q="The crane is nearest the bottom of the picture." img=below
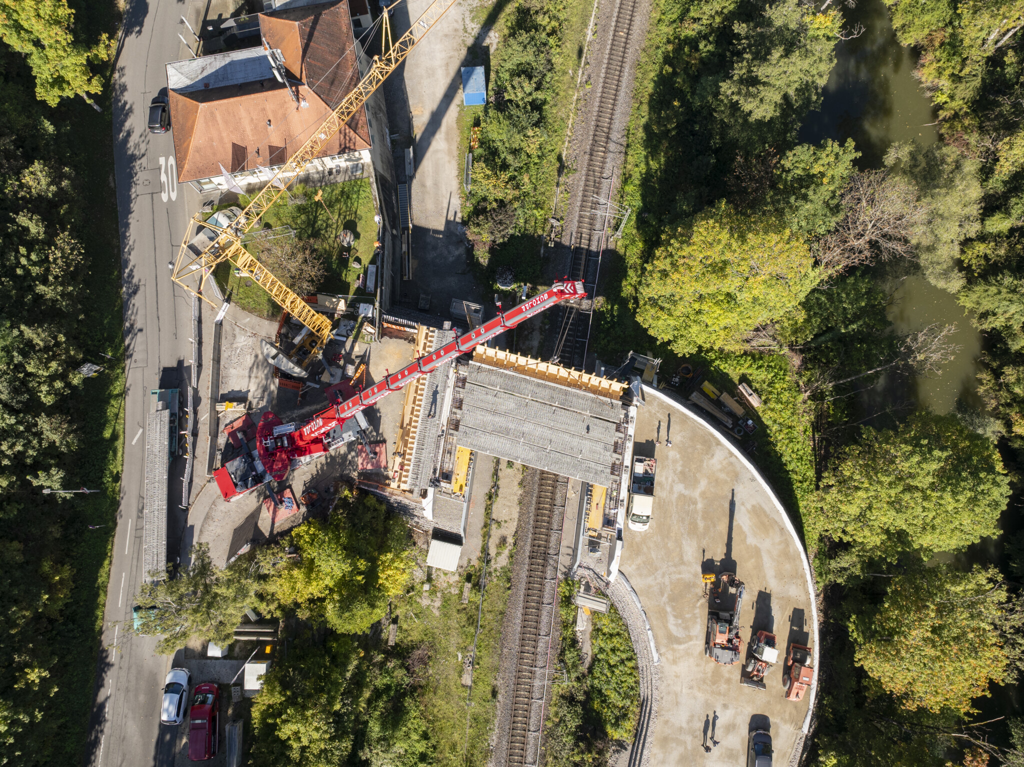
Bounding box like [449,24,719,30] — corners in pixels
[212,275,612,509]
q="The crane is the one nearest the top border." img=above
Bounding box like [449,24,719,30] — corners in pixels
[165,0,469,388]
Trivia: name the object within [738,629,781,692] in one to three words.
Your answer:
work vehicle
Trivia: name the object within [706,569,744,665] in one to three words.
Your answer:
work vehicle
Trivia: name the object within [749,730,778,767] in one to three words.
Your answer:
car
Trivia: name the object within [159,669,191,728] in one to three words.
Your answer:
car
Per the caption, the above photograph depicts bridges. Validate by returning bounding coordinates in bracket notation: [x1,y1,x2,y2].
[389,322,641,585]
